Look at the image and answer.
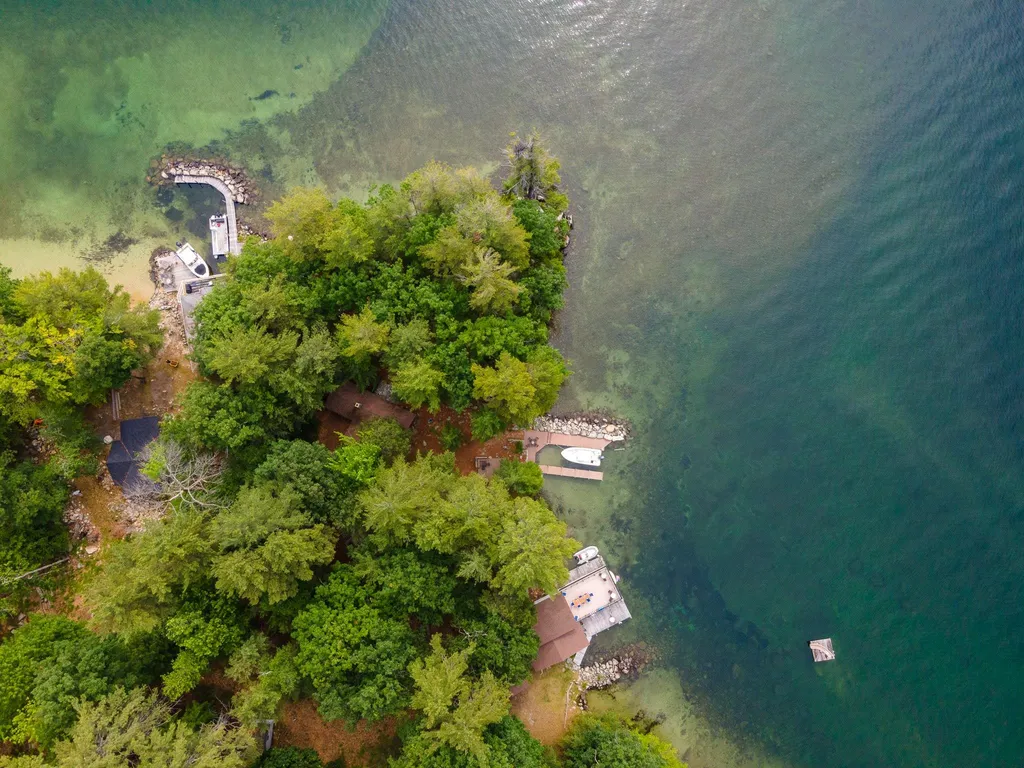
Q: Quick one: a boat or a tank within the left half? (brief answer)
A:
boat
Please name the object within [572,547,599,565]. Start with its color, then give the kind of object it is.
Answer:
white boat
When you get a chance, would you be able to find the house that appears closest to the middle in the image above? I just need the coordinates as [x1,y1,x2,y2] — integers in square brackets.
[326,381,415,448]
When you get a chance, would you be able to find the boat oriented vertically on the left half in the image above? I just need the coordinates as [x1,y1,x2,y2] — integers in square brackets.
[206,211,228,256]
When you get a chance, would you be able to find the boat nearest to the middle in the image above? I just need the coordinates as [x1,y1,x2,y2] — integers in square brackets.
[561,447,607,467]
